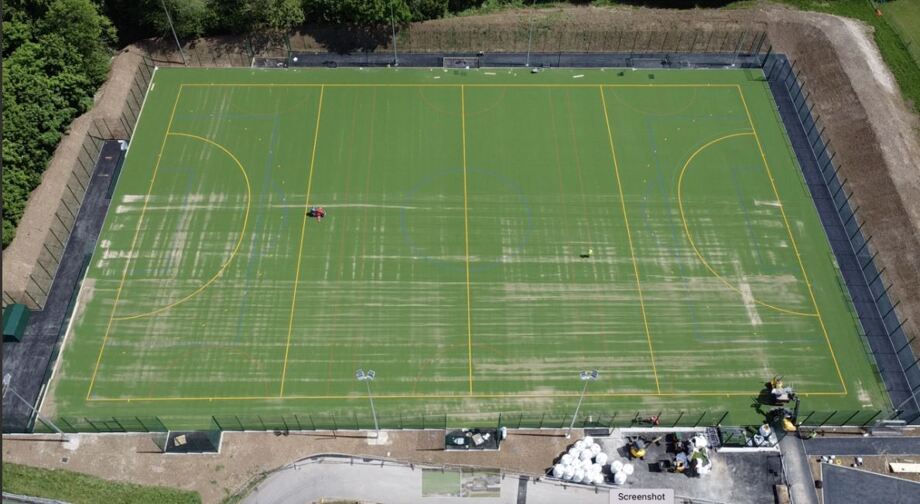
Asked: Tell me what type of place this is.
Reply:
sports ground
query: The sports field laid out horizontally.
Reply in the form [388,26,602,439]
[34,67,898,431]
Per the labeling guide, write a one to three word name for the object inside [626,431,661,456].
work vehicle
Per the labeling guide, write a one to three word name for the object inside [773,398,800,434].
work vehicle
